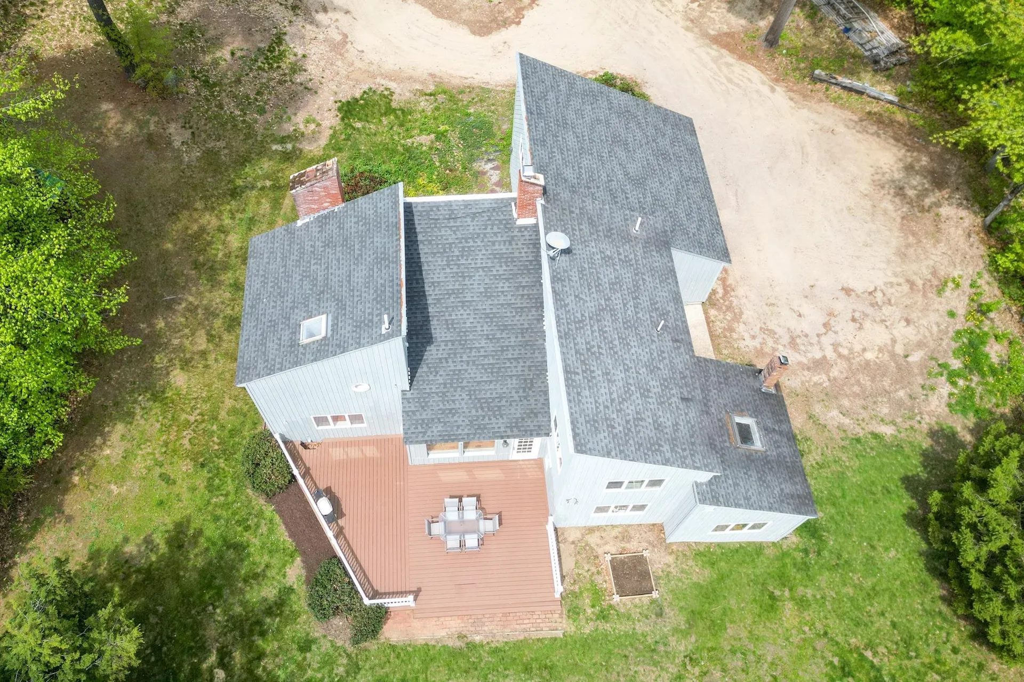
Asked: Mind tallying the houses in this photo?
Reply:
one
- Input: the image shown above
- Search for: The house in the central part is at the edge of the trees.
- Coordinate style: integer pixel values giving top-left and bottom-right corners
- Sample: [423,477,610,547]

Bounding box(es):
[234,51,818,547]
